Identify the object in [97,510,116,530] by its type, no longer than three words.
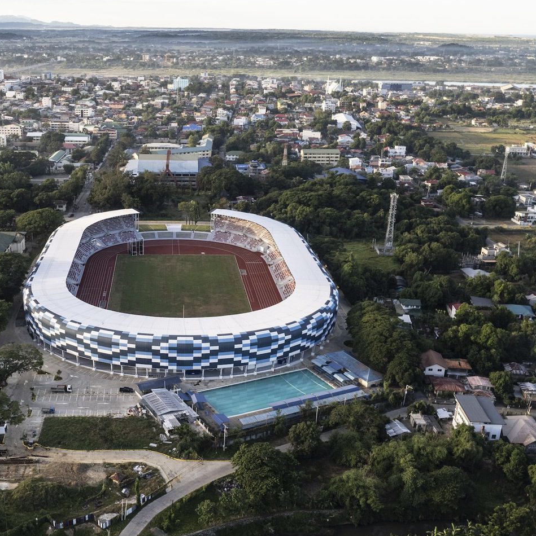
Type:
shed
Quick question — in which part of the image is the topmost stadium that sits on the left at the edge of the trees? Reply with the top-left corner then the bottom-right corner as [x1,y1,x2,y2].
[20,207,342,380]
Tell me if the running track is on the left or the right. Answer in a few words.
left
